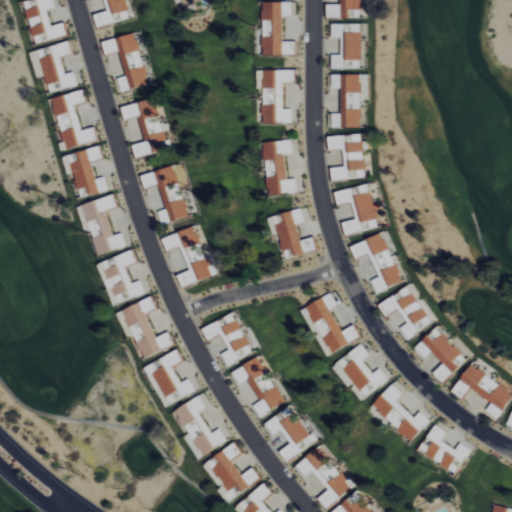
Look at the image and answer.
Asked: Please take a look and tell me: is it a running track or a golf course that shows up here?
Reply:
golf course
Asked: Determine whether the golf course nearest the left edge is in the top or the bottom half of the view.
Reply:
bottom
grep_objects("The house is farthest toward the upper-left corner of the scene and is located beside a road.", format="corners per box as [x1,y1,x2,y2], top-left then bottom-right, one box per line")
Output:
[21,0,72,44]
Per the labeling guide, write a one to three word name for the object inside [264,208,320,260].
house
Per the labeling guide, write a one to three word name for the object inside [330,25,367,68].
house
